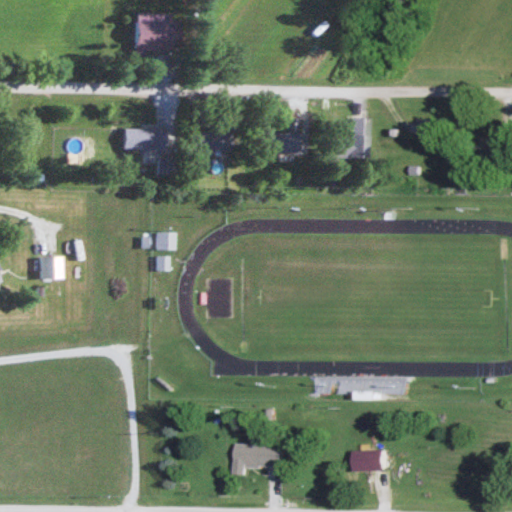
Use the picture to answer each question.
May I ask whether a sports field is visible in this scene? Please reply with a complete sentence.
Yes, I can see a sports field in this picture.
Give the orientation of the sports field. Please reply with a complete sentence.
From this overhead view, the sports field appears to run horizontally.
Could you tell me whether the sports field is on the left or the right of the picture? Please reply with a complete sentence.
It is on the right.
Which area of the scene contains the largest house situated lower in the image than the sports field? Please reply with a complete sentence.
The largest house situated lower in the image than the sports field sits in the bottom section of the image.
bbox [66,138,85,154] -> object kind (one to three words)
swimming pool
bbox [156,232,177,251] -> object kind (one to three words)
shed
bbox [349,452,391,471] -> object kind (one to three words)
house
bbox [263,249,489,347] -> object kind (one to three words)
sports field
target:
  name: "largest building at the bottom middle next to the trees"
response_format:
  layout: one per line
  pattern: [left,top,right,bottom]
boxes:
[232,444,284,476]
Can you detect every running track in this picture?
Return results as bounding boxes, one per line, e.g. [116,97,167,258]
[180,220,512,376]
